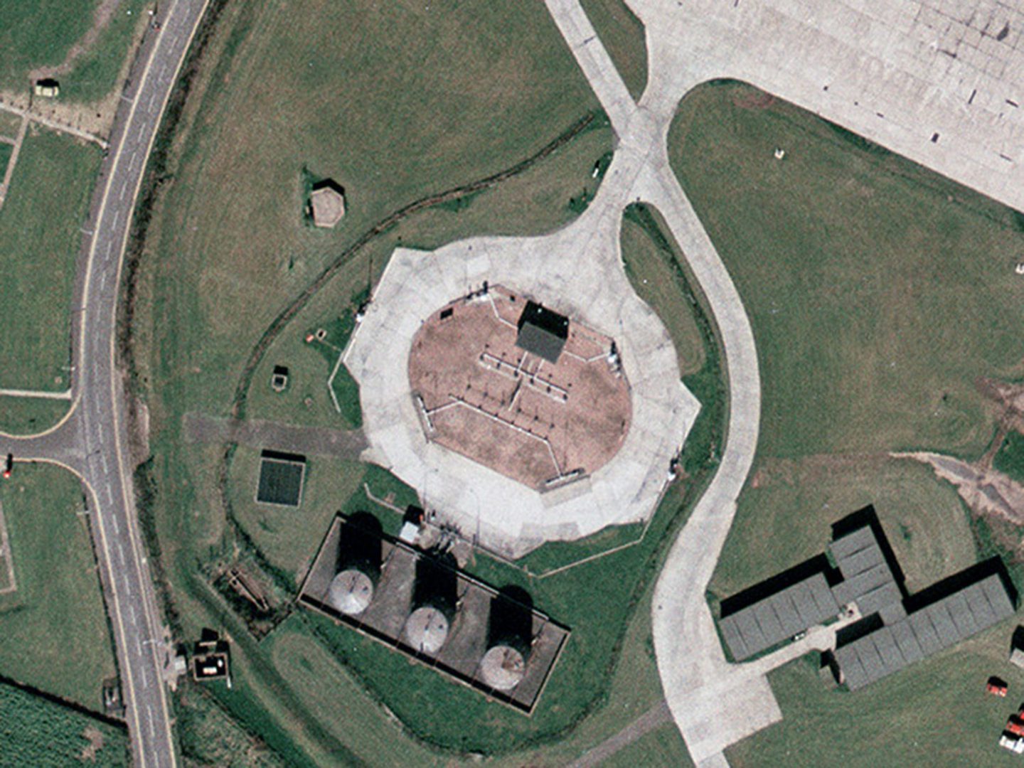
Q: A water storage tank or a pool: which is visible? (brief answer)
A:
water storage tank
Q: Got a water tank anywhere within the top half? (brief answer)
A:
No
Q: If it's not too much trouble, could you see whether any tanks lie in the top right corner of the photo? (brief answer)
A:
No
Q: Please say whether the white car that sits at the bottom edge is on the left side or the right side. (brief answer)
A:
right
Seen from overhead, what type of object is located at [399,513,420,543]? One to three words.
shed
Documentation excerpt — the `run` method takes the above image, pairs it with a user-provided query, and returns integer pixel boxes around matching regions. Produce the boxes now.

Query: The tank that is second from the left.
[329,536,384,615]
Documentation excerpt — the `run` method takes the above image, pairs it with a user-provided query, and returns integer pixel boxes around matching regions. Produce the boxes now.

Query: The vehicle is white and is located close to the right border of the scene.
[1001,735,1024,755]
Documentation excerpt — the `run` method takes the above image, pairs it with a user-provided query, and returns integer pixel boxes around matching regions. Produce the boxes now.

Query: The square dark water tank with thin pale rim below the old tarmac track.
[257,454,307,506]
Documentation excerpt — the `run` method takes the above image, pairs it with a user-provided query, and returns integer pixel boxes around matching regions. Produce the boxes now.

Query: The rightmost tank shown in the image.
[481,610,534,690]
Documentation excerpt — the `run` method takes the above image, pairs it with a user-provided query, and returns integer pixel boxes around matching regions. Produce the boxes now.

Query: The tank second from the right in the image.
[405,573,459,653]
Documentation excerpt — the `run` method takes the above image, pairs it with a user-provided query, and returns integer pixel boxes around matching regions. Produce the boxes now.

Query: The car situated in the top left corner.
[35,85,59,98]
